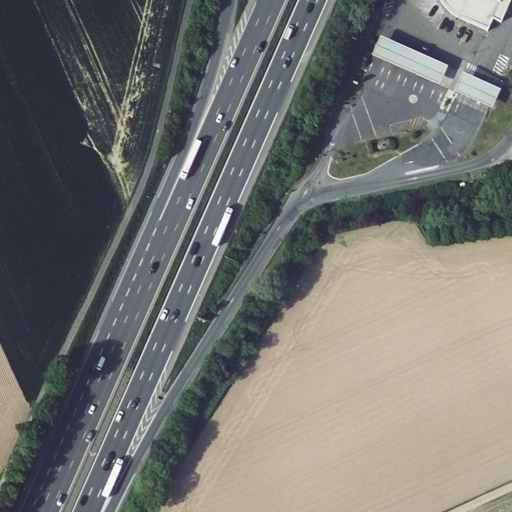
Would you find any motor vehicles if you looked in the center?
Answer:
Yes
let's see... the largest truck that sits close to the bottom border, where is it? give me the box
[102,458,124,498]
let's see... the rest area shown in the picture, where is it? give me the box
[318,0,512,180]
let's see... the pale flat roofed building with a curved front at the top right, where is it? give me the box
[440,0,511,30]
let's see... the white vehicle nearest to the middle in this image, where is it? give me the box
[211,207,234,246]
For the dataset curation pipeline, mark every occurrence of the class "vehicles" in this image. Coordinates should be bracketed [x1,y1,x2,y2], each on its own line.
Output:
[211,207,234,246]
[230,57,238,68]
[306,2,314,14]
[216,112,224,123]
[80,494,88,506]
[132,398,140,409]
[457,26,466,38]
[194,256,202,268]
[88,404,96,415]
[429,5,438,16]
[180,138,202,180]
[57,495,65,506]
[186,198,194,209]
[86,431,94,442]
[191,242,199,254]
[258,41,266,52]
[150,262,158,274]
[160,310,168,320]
[96,356,106,371]
[104,459,112,471]
[439,18,448,29]
[462,30,472,42]
[445,20,454,32]
[102,458,124,498]
[116,411,123,422]
[283,56,291,68]
[172,309,179,320]
[224,120,231,130]
[284,24,295,40]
